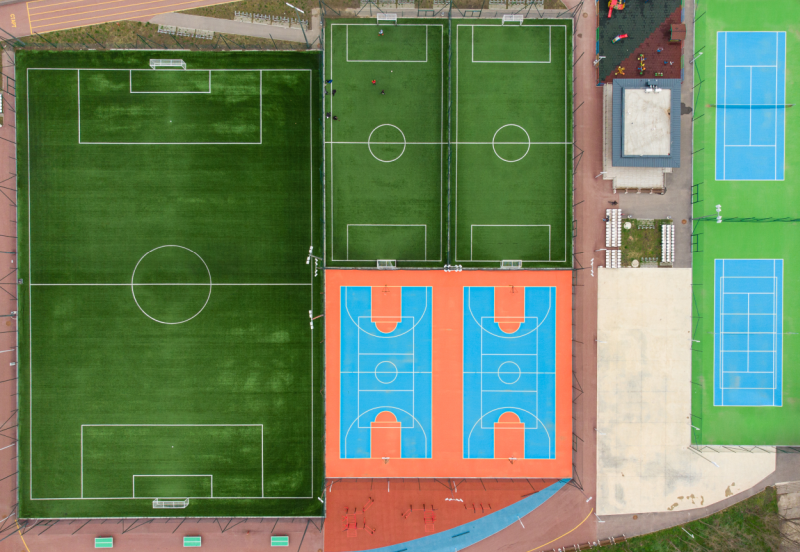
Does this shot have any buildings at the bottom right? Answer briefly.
No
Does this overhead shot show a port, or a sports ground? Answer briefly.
sports ground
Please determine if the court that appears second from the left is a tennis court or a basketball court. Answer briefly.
basketball court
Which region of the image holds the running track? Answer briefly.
top left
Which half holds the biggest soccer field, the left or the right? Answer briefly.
left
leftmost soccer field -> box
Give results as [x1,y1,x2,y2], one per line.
[16,51,324,518]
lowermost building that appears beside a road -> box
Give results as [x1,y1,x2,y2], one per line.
[598,78,680,194]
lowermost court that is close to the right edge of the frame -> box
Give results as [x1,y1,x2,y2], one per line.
[693,219,800,445]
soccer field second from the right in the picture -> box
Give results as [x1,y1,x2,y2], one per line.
[326,19,446,267]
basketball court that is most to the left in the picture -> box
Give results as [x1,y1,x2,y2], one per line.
[326,269,448,479]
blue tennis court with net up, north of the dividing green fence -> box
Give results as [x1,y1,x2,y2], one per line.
[693,0,800,219]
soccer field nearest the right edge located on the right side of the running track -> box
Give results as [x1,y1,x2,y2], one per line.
[449,19,573,267]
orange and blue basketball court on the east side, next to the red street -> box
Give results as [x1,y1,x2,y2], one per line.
[448,269,573,479]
